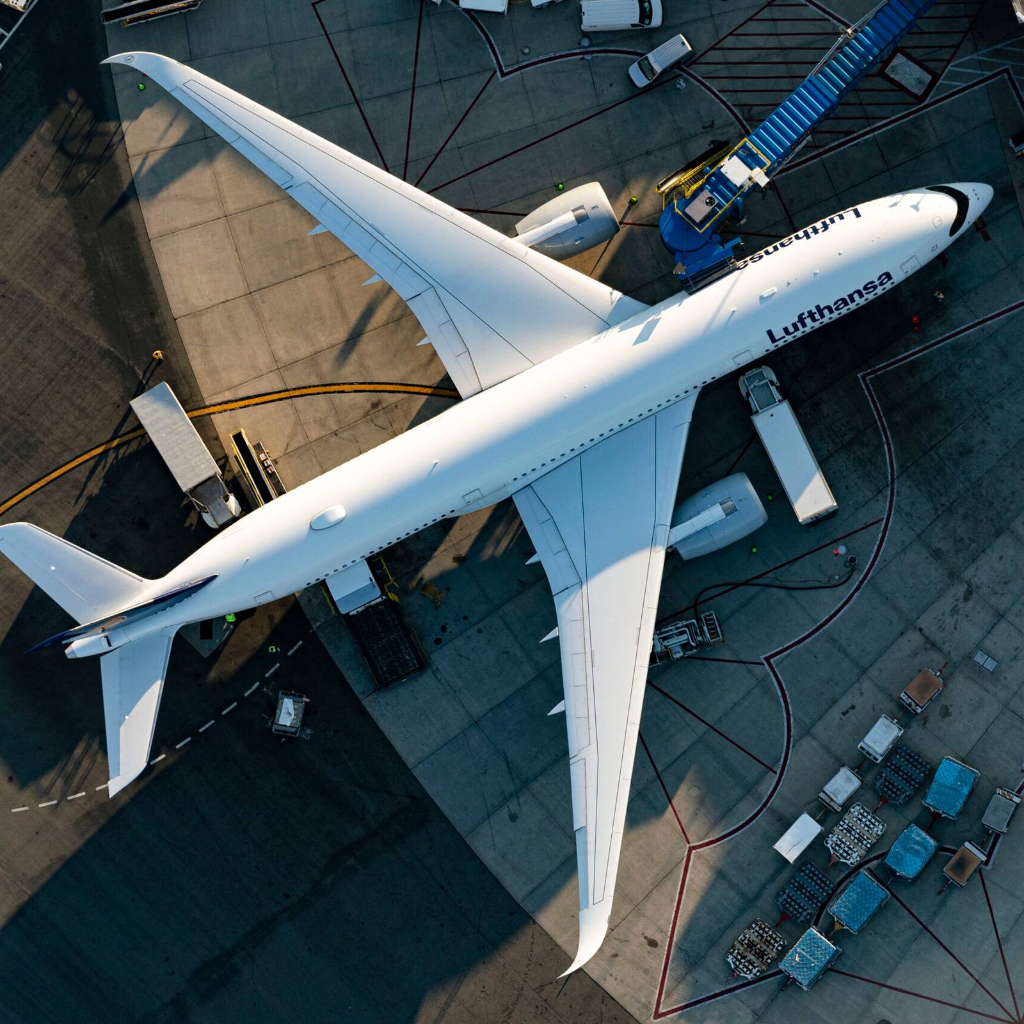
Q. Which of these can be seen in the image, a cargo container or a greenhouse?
cargo container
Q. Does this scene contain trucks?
Yes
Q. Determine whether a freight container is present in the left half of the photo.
No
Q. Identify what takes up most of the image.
paved ground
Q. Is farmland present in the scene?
No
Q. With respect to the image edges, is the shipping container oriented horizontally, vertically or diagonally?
diagonally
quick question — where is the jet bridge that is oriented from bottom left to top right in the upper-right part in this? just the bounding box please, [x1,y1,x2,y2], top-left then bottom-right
[658,0,943,296]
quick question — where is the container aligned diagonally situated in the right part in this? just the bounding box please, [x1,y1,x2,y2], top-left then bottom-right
[772,805,830,865]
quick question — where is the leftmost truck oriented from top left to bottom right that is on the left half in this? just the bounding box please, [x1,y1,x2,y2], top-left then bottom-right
[131,381,249,537]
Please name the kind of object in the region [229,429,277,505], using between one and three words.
work vehicle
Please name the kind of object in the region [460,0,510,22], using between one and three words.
truck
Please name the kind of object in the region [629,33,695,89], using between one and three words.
van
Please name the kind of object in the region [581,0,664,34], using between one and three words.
van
